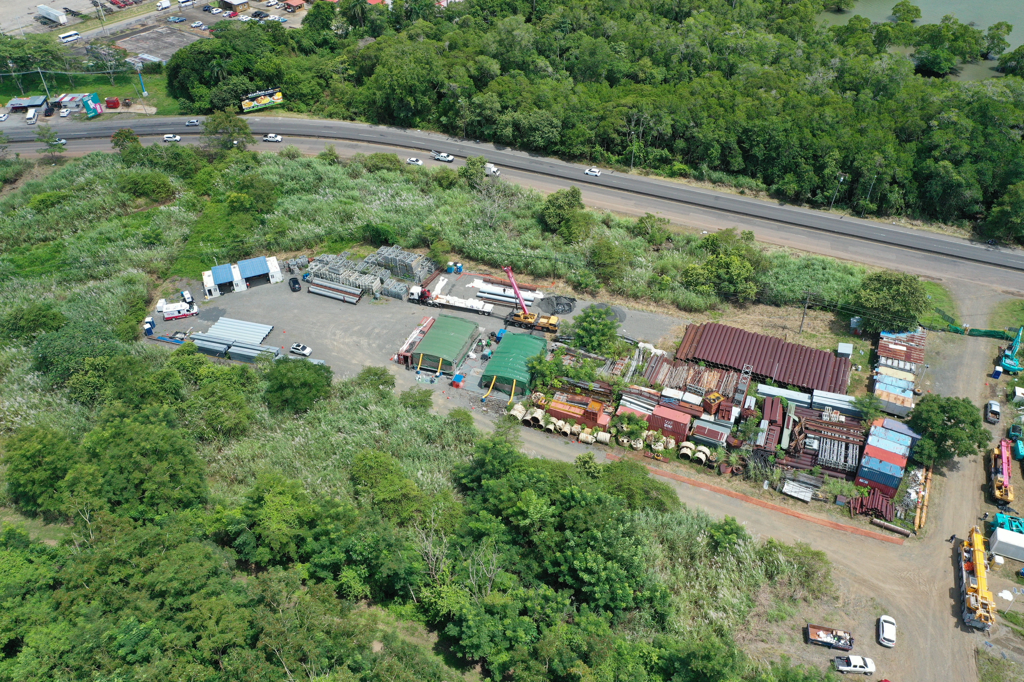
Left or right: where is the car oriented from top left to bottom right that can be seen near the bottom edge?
right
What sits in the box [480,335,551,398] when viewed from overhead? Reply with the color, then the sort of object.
green tent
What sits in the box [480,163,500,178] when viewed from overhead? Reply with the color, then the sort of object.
white vehicle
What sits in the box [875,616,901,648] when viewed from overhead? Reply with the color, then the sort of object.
white car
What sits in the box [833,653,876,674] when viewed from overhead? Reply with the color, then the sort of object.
white truck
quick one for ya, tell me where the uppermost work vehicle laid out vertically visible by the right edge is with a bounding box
[998,341,1019,386]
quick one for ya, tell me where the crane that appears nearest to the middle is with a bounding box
[502,261,563,333]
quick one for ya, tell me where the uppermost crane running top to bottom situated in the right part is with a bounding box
[988,433,1018,502]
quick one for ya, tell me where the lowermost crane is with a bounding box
[962,526,994,621]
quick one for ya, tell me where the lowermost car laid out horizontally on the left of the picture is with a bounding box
[288,342,313,356]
